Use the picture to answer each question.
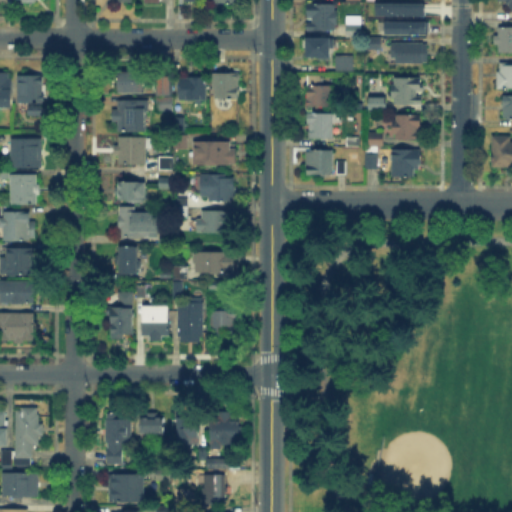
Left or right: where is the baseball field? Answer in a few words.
right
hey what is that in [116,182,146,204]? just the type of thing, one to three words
house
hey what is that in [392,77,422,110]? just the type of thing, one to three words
house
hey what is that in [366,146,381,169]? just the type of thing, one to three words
building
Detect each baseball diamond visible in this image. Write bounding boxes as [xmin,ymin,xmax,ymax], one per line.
[347,252,512,512]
